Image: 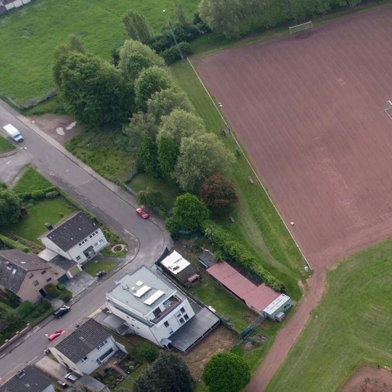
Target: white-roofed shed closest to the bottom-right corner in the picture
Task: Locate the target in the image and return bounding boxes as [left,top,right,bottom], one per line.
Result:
[262,294,292,322]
